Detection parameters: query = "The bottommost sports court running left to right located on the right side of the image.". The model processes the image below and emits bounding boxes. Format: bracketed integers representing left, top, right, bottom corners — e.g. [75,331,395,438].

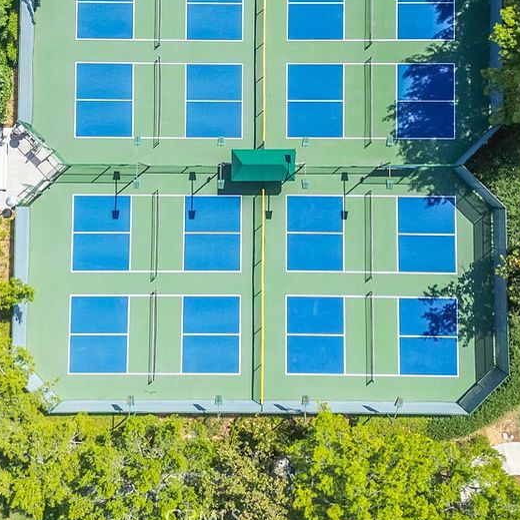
[285,295,458,377]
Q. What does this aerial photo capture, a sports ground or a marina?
sports ground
